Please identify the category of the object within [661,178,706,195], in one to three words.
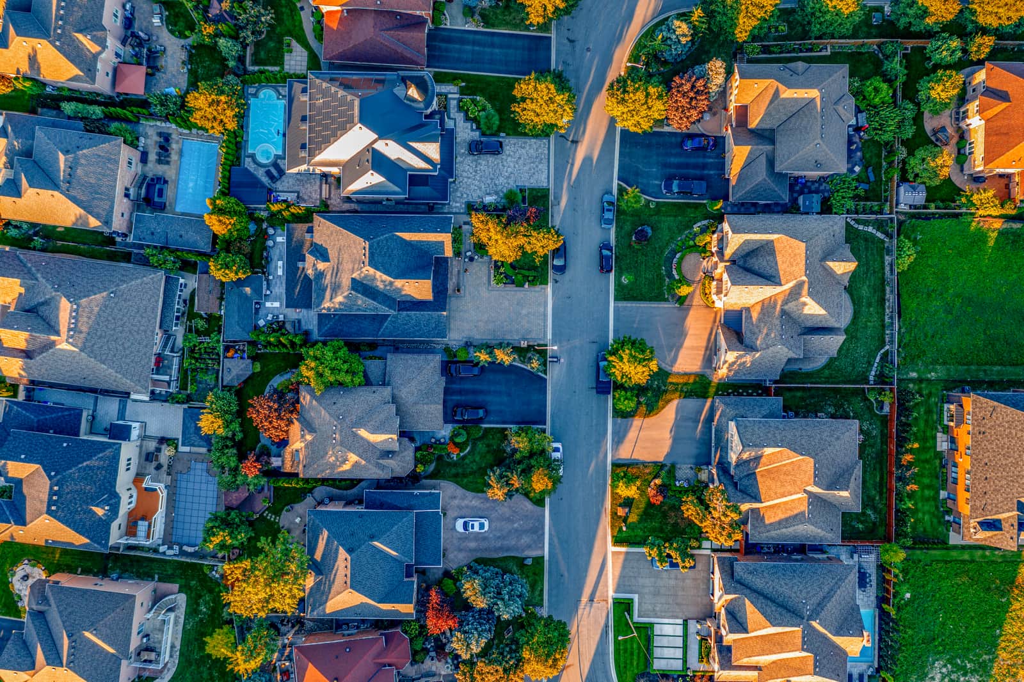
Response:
vehicle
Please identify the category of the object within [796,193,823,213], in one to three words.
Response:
shed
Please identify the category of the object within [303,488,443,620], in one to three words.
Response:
house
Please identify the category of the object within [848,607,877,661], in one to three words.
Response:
swimming pool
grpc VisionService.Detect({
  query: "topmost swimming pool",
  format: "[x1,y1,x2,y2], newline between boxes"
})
[247,87,286,165]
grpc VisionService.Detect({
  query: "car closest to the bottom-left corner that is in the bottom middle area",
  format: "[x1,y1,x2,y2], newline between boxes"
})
[456,517,489,533]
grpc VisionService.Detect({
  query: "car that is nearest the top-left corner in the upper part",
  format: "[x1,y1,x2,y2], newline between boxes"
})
[468,138,502,155]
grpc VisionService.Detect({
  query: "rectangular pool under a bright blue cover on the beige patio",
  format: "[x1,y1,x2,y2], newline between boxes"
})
[173,138,220,214]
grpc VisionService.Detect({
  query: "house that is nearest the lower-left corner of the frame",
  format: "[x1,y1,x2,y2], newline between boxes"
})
[0,575,179,682]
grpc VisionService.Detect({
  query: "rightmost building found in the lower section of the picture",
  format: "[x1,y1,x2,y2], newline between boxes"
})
[942,393,1024,552]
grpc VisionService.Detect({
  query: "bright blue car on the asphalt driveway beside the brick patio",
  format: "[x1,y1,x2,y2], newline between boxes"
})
[681,135,715,151]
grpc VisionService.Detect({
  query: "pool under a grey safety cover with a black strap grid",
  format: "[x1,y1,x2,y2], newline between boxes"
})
[171,459,219,548]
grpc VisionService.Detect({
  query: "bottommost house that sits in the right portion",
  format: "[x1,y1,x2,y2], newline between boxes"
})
[709,551,873,682]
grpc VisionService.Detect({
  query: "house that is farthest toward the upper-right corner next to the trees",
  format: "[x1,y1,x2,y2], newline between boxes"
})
[951,61,1024,210]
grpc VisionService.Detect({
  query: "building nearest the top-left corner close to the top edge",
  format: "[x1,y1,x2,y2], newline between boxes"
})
[0,0,126,96]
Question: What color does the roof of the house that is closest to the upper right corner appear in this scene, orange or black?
orange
